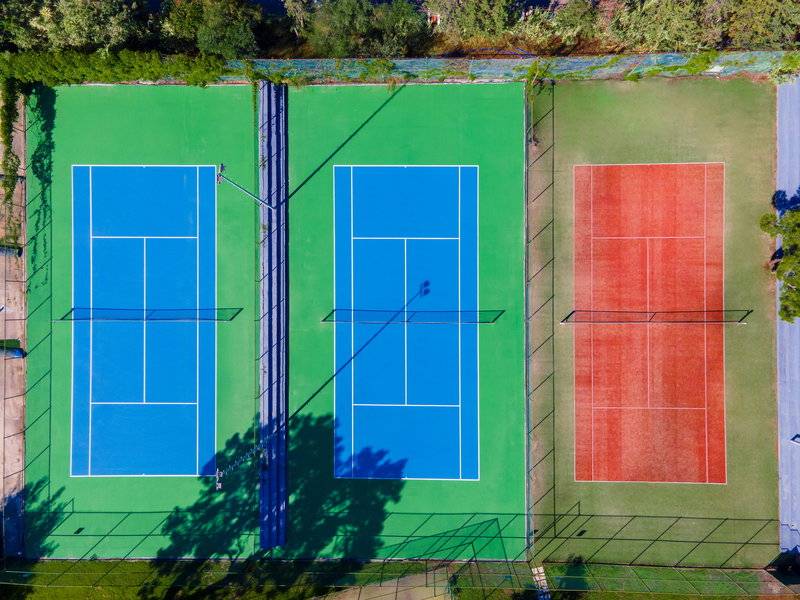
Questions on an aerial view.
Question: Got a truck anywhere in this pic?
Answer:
No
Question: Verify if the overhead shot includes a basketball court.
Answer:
No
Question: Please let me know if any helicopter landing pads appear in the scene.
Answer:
No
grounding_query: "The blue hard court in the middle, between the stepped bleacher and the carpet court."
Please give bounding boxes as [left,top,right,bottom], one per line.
[262,82,525,559]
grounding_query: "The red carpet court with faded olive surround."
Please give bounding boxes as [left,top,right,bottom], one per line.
[530,80,777,569]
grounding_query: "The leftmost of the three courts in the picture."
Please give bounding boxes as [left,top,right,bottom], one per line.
[25,86,262,559]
